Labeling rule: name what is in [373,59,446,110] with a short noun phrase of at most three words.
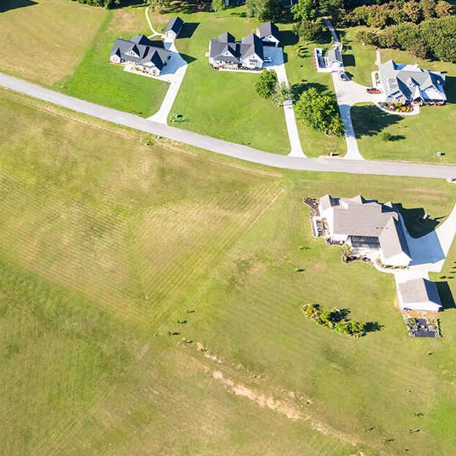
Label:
house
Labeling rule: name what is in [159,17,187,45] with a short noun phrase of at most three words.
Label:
building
